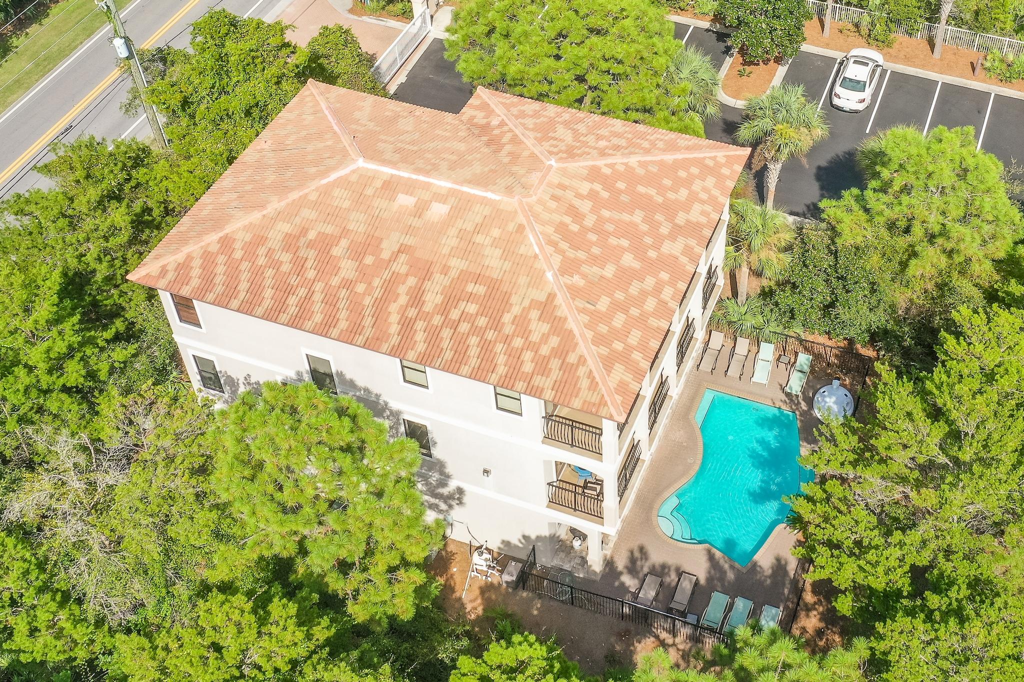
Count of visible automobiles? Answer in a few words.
1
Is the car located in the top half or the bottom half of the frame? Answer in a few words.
top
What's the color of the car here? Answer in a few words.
white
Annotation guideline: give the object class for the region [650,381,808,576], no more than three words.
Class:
swimming pool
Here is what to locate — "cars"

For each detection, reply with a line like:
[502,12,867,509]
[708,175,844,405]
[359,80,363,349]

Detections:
[827,51,884,118]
